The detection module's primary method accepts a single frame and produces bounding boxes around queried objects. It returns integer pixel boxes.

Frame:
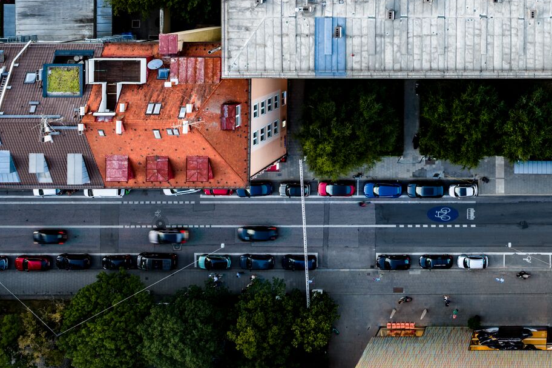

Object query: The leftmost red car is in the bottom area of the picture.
[15,254,51,272]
